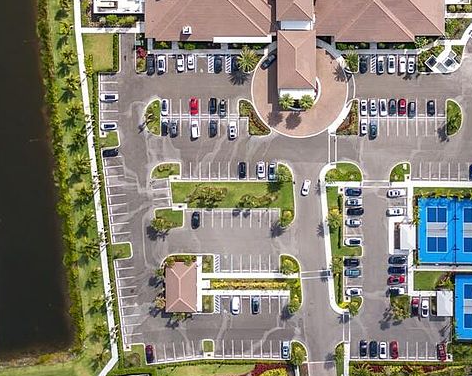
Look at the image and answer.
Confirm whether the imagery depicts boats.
No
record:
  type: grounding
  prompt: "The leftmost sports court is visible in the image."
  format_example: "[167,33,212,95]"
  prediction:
[419,200,456,265]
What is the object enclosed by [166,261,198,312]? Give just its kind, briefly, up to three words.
building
